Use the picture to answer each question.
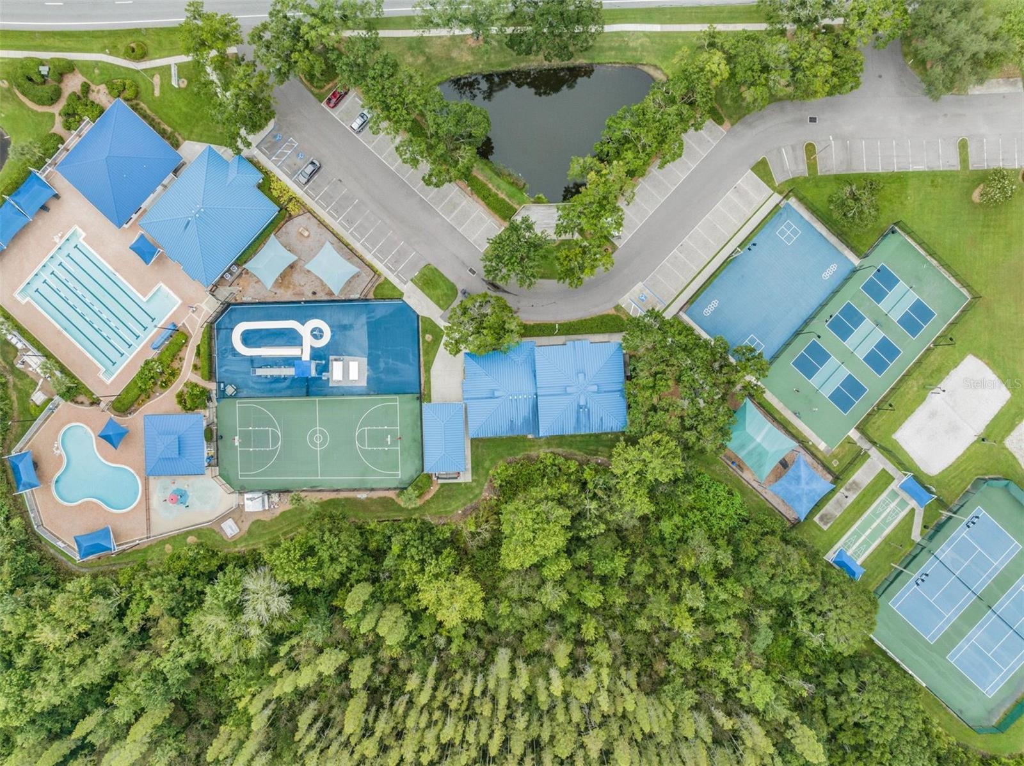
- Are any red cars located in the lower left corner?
No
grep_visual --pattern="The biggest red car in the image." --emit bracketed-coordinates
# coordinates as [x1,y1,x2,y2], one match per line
[324,85,347,110]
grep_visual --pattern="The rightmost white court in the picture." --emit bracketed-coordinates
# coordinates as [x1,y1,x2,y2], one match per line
[1004,421,1024,468]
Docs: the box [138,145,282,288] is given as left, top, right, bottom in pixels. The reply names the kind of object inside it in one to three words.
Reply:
building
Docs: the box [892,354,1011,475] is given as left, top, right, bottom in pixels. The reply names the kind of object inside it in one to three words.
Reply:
sports court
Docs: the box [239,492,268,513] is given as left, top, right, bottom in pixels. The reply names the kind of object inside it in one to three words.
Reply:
shed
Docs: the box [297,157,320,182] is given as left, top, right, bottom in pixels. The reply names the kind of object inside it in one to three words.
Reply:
car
